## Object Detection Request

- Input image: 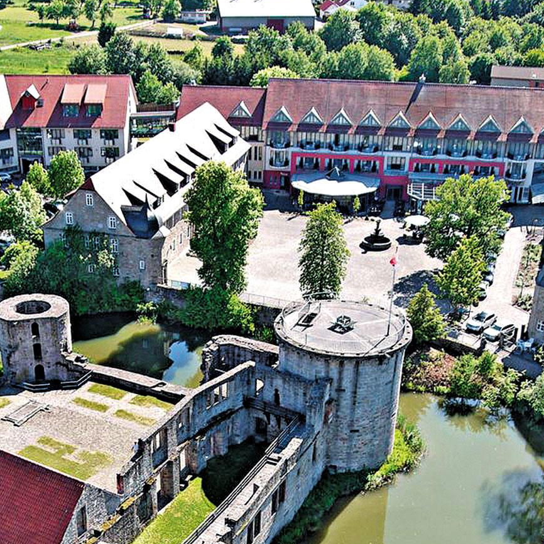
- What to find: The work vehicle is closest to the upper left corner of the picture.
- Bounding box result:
[64,15,79,28]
